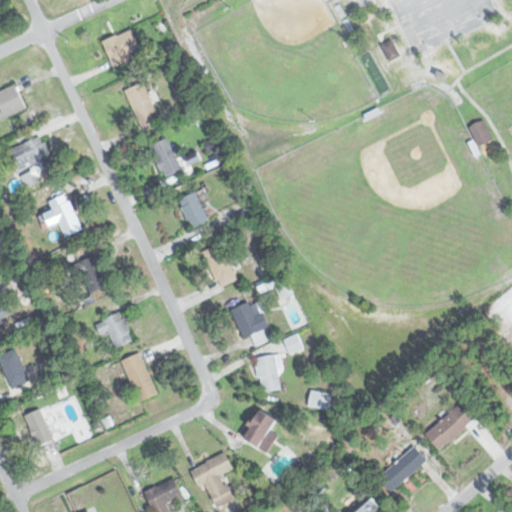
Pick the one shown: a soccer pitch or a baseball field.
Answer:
baseball field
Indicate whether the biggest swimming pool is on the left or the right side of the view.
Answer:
left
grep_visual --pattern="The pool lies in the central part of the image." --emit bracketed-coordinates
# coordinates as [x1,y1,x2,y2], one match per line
[278,287,307,330]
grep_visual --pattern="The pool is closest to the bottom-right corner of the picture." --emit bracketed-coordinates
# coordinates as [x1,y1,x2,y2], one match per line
[262,448,296,482]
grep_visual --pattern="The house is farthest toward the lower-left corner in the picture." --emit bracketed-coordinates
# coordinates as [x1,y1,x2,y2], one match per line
[25,410,52,446]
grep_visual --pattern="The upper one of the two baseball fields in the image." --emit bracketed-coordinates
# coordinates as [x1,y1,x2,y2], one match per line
[194,0,378,121]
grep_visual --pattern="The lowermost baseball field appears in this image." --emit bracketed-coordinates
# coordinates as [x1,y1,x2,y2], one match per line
[257,86,512,304]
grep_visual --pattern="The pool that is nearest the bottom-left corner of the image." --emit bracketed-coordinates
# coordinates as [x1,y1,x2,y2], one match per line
[39,395,92,444]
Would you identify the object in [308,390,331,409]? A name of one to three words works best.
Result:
shed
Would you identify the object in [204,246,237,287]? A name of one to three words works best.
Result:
house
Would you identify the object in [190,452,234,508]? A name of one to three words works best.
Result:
house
